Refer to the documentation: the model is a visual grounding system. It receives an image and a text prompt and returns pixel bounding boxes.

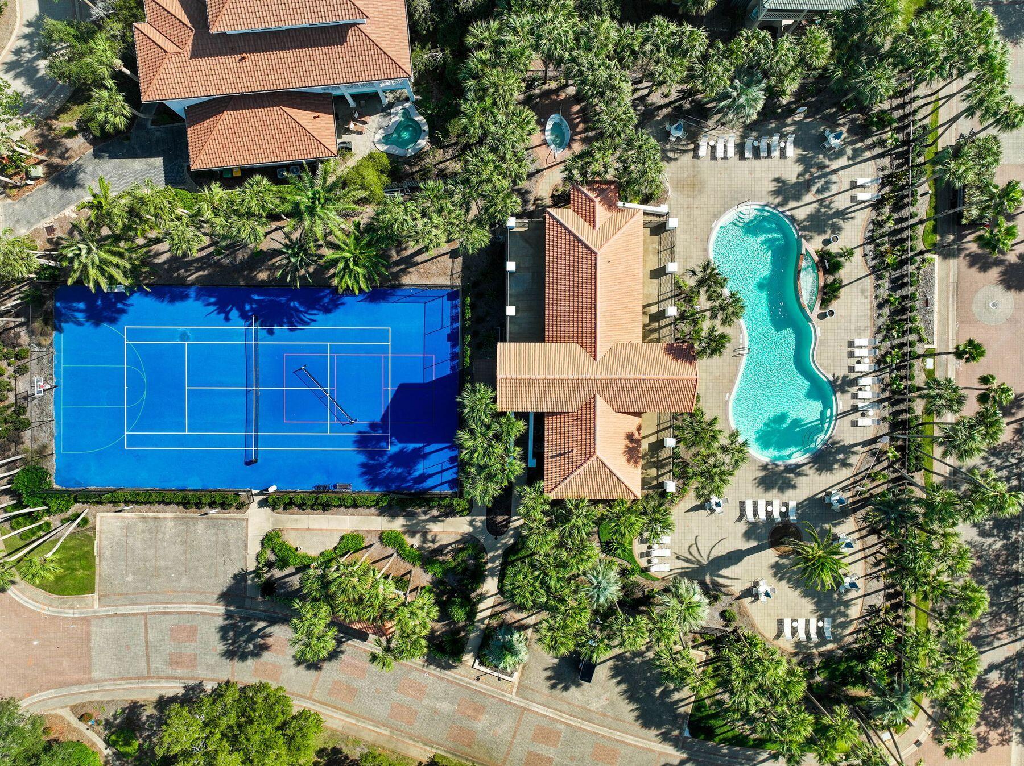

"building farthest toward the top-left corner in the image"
[132,0,418,172]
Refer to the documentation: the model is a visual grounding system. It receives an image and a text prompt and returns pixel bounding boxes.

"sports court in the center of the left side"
[54,287,459,492]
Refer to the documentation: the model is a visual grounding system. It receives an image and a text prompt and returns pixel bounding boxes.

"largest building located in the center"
[496,179,704,501]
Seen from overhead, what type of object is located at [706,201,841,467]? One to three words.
swimming pool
